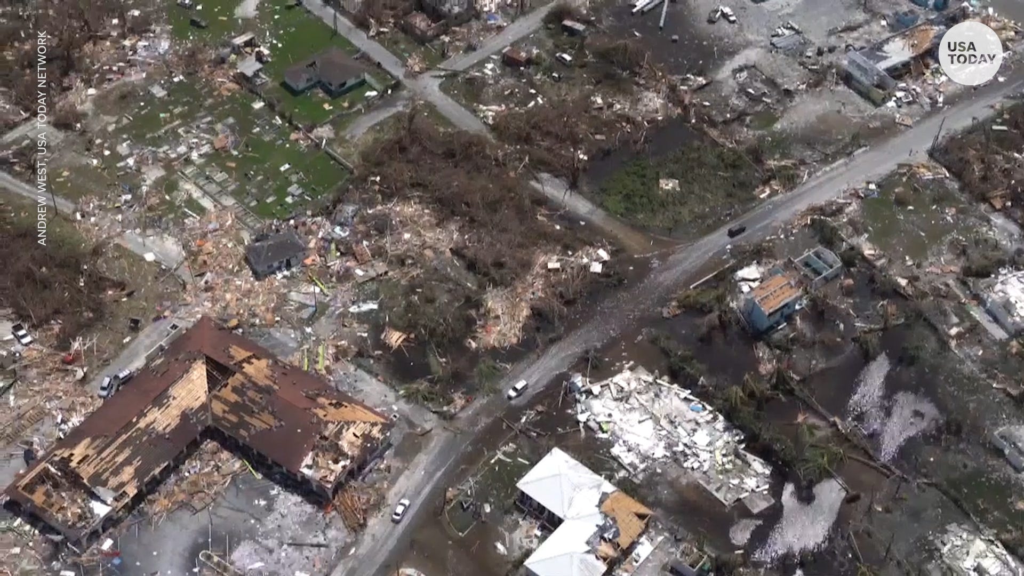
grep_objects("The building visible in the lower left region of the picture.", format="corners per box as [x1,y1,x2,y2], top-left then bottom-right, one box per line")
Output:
[4,316,395,554]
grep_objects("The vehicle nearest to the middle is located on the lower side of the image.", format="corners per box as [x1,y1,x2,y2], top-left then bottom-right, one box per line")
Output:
[505,377,531,401]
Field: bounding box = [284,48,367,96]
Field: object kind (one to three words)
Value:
house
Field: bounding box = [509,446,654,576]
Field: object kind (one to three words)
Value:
building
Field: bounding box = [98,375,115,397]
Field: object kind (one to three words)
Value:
car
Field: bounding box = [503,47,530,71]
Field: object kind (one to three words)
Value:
shed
